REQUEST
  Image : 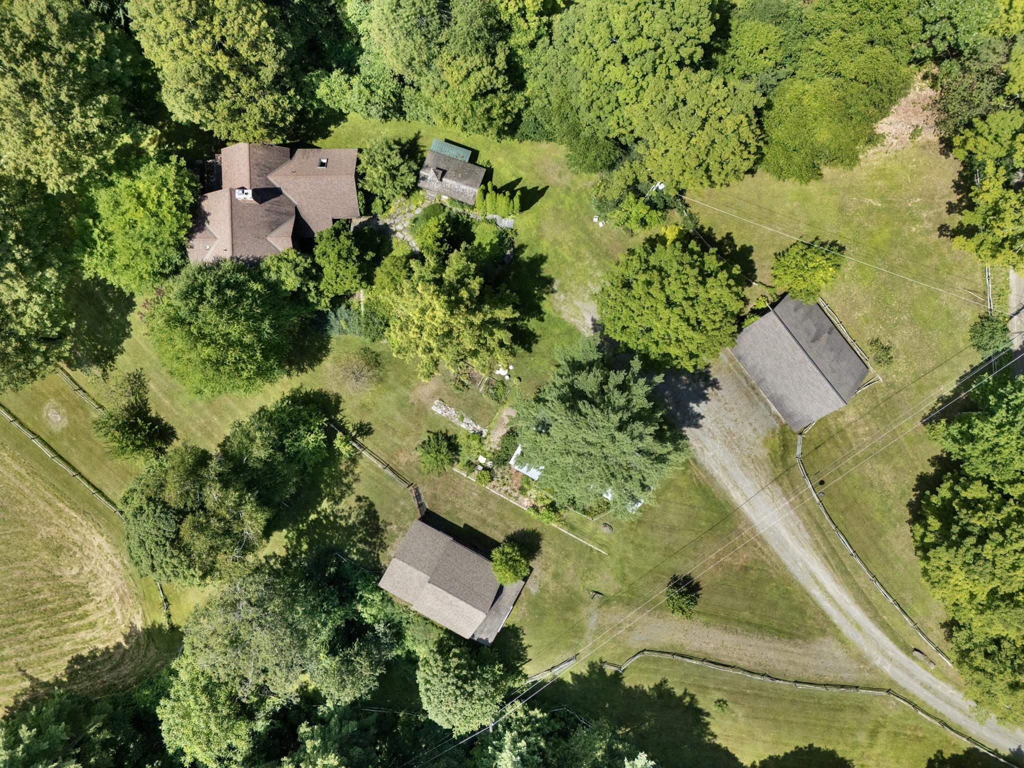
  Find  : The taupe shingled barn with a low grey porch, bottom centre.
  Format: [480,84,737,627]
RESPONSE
[379,518,533,644]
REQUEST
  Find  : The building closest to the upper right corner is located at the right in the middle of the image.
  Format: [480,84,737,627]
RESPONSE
[724,284,869,433]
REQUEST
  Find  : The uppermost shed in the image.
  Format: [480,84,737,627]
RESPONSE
[418,140,487,207]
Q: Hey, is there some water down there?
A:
No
